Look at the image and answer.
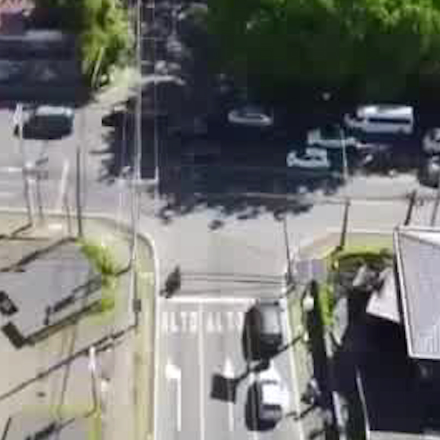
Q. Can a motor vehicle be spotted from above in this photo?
Yes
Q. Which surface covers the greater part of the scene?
paved ground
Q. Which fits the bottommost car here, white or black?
white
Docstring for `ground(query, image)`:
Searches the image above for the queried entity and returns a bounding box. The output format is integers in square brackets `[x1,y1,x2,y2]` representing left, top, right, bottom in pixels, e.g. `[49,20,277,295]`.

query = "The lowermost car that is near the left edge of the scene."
[18,106,78,137]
